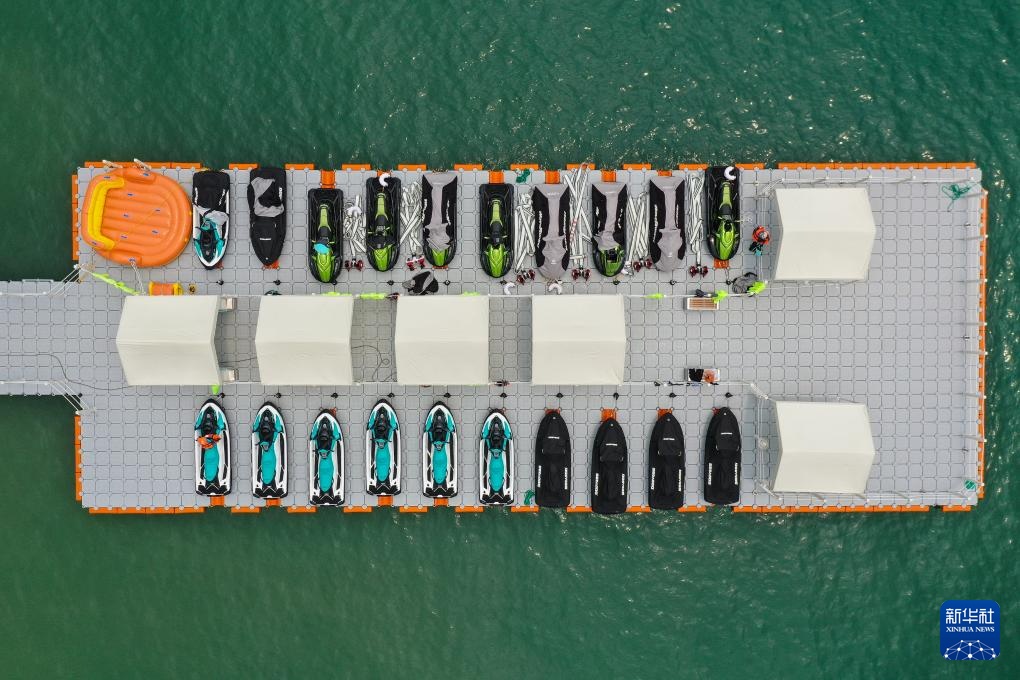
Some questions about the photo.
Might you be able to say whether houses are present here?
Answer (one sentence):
No, there isn't any house down there.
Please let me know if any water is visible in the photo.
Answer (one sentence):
Yes, the picture does contain water.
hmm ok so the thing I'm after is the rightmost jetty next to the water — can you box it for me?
[74,163,985,513]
